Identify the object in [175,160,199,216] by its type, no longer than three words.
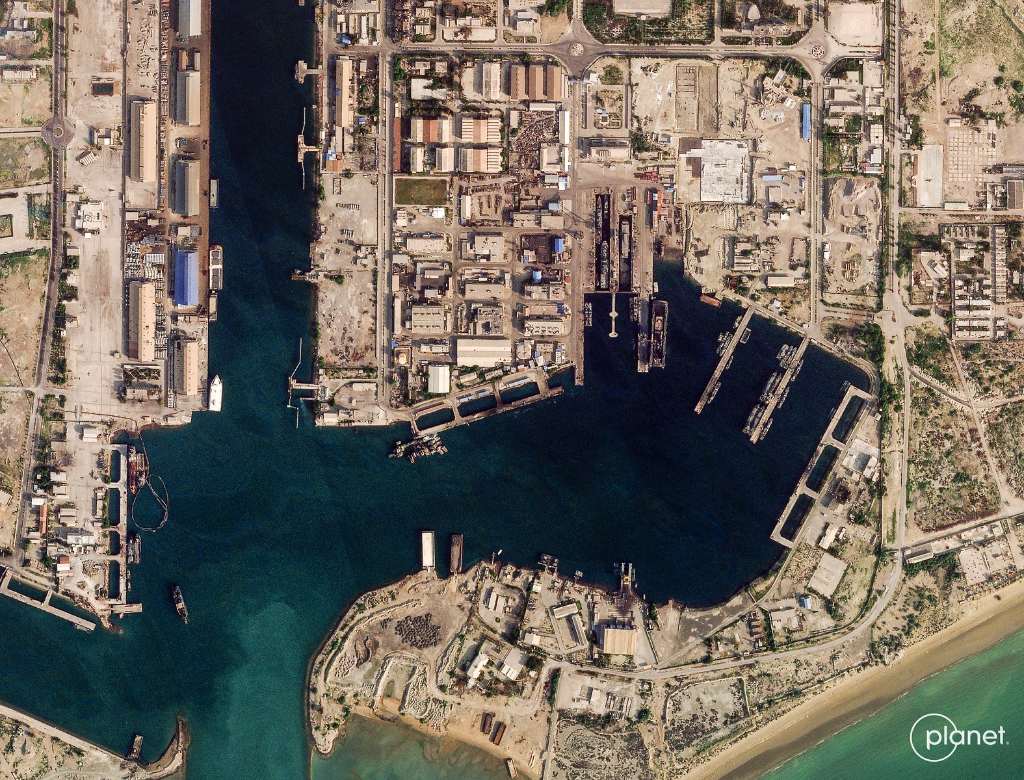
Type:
shed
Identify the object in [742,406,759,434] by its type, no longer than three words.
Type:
vessel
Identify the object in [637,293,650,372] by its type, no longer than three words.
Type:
pier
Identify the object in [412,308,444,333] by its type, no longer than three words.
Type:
building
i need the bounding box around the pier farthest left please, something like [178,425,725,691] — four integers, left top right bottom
[0,567,95,631]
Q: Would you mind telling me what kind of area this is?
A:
port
